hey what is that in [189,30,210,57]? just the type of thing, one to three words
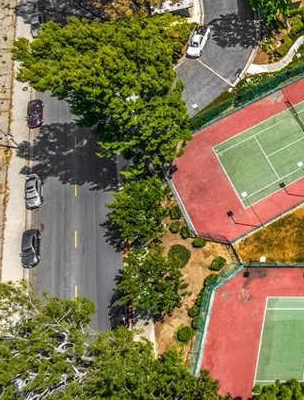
car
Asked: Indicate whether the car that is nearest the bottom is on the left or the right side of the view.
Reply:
left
